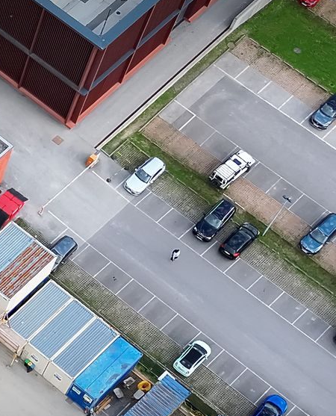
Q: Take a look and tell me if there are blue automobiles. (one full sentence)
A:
Yes, the picture does show a blue automobile.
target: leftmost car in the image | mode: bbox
[48,231,84,276]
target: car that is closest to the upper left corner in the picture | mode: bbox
[124,155,167,196]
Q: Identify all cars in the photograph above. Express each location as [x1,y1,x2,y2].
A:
[191,199,239,243]
[298,210,336,256]
[173,337,215,379]
[48,231,84,276]
[124,155,167,196]
[210,150,256,193]
[307,88,336,129]
[218,224,258,261]
[252,396,289,416]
